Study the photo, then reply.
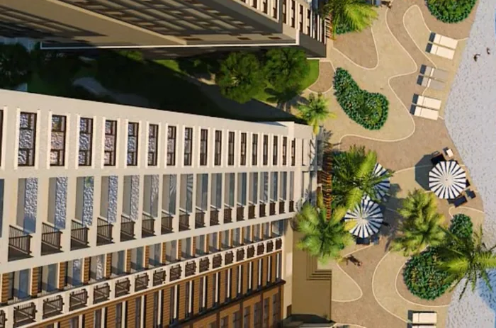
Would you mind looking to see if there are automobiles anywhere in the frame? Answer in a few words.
No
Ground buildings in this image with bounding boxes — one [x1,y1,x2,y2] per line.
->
[0,0,328,55]
[0,90,323,328]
